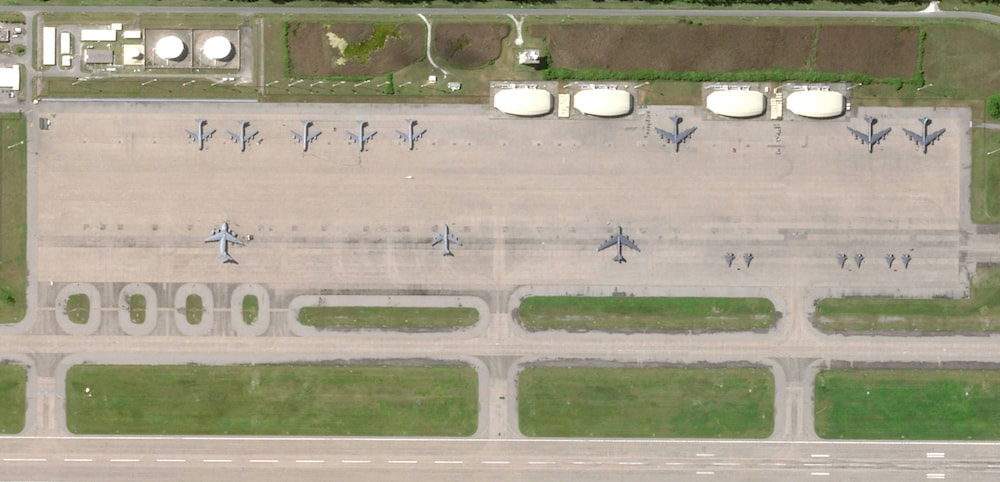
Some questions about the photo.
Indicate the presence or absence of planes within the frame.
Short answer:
Yes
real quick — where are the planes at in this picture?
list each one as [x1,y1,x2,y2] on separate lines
[432,223,463,254]
[905,116,946,152]
[855,254,865,267]
[657,114,698,151]
[396,119,428,150]
[727,253,736,266]
[852,116,893,152]
[206,222,247,262]
[348,120,378,151]
[887,254,896,267]
[839,254,849,267]
[745,253,755,264]
[187,119,217,150]
[229,120,259,151]
[601,226,642,262]
[292,120,322,151]
[903,255,913,266]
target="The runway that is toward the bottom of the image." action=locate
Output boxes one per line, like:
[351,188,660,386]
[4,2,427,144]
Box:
[0,435,1000,482]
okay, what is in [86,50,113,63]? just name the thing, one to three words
building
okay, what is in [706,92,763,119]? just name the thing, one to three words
hangar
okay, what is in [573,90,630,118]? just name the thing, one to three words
hangar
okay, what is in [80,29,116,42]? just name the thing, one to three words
building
